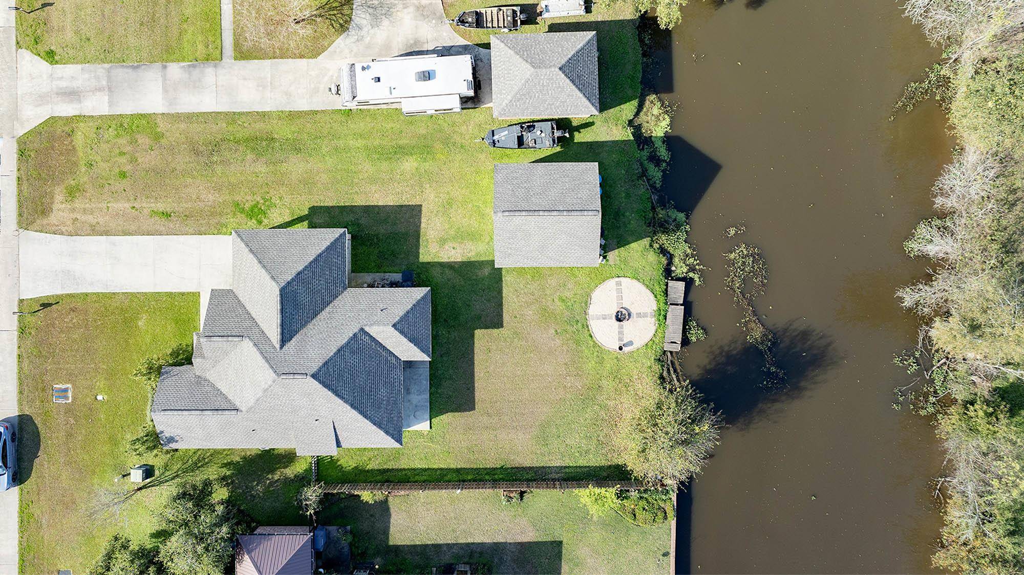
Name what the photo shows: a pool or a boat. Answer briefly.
boat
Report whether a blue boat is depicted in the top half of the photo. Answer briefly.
No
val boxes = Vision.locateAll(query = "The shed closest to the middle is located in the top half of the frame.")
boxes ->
[493,161,603,268]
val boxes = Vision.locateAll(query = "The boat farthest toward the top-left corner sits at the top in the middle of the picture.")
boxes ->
[456,6,528,30]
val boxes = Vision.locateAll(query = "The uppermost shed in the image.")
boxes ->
[489,31,600,119]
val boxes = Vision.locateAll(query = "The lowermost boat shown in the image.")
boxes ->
[485,120,569,149]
